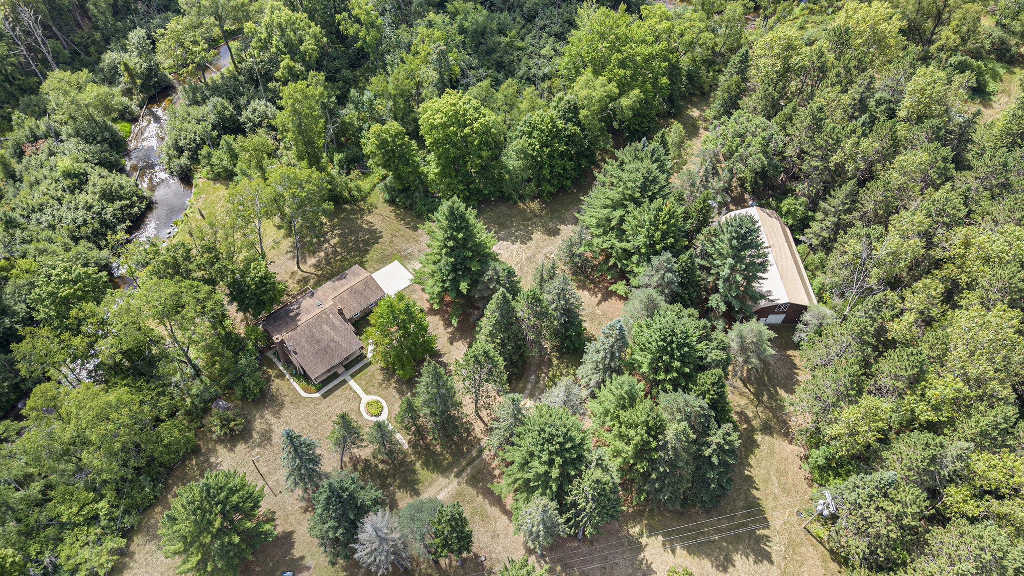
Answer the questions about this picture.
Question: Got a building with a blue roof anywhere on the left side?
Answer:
No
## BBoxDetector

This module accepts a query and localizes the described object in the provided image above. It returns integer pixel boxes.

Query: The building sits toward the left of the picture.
[238,267,387,385]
